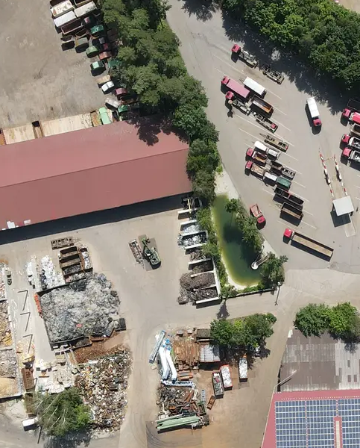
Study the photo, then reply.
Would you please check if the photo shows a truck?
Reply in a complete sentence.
Yes, looking at the shot, I can spot a truck.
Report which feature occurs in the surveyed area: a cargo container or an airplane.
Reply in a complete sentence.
There is a cargo container in the scene.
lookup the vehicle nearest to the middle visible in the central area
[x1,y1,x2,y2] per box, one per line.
[143,237,161,264]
